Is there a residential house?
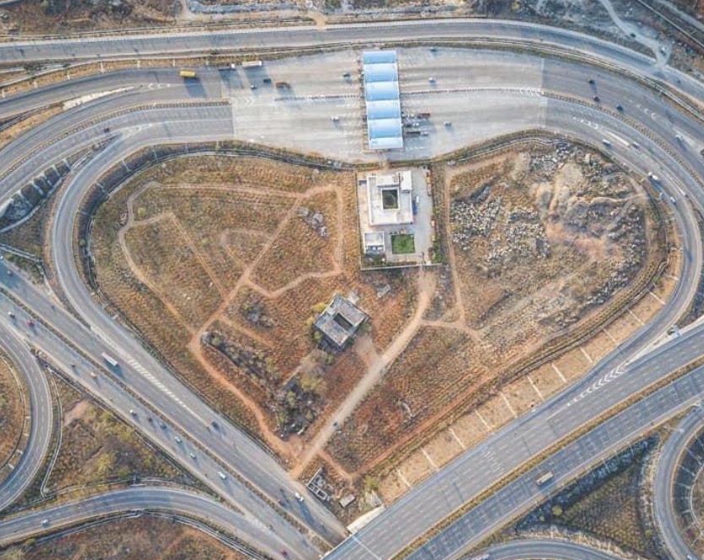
Yes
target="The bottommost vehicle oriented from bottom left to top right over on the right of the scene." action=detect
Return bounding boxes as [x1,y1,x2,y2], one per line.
[536,471,555,485]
